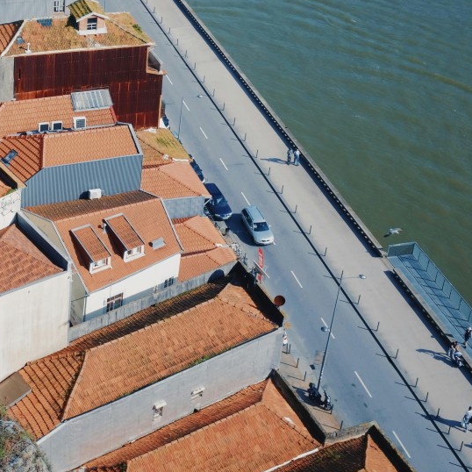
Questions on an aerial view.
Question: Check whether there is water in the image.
Yes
